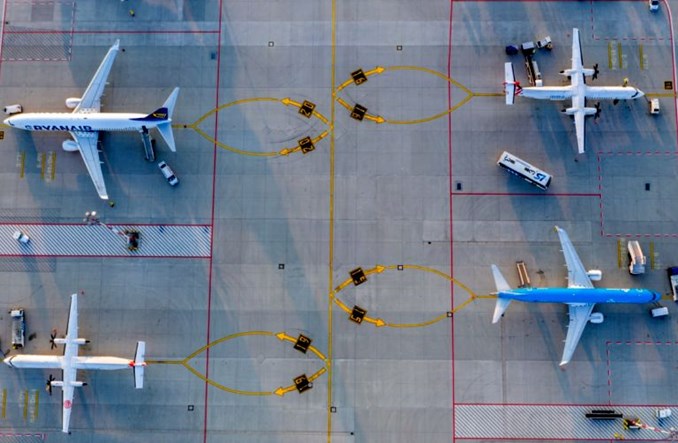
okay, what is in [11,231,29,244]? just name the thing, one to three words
vehicle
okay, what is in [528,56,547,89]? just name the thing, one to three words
work vehicle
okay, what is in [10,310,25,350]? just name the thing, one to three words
vehicle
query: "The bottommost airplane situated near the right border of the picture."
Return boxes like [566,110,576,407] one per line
[490,225,660,365]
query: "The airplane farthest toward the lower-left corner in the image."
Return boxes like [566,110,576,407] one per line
[5,296,152,432]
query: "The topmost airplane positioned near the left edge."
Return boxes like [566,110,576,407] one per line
[5,39,179,199]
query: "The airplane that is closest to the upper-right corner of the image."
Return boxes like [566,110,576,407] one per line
[503,31,644,154]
